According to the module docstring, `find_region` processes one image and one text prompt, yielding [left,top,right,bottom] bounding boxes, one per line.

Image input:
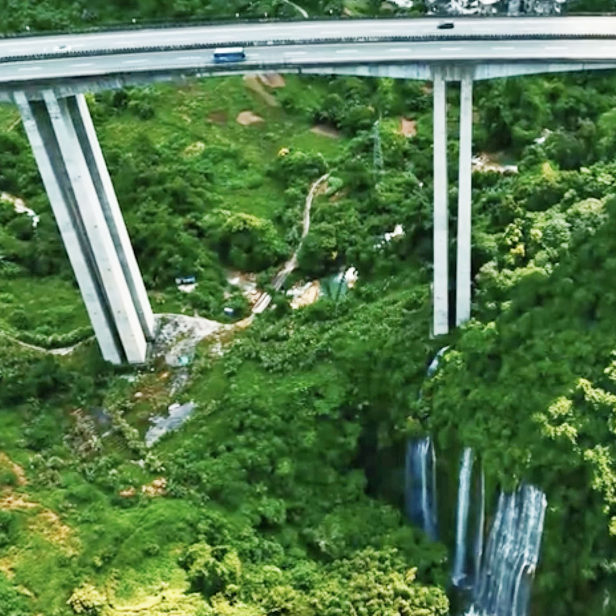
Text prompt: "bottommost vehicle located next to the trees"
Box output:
[219,304,238,316]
